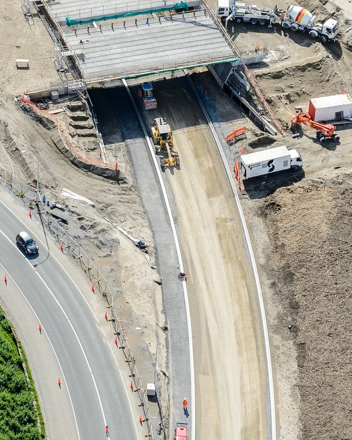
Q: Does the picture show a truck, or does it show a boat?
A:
truck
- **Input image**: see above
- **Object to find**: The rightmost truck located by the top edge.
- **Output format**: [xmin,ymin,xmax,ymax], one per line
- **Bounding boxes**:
[283,0,337,38]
